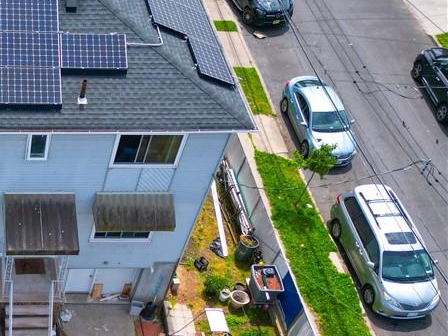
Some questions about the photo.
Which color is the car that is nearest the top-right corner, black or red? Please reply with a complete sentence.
From above, the car that is nearest the top-right corner appears black.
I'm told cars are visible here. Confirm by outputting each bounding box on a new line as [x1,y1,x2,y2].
[335,196,446,330]
[232,0,290,25]
[409,51,448,123]
[282,83,361,169]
